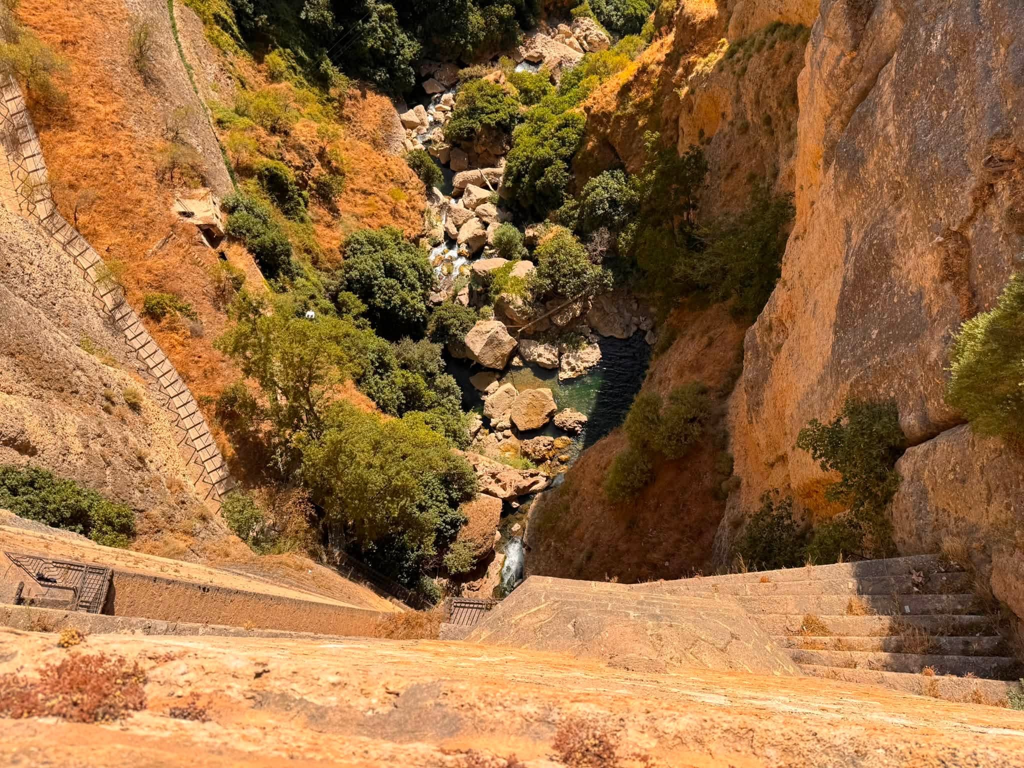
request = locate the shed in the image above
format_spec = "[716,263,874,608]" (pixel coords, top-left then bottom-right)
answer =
[169,192,233,257]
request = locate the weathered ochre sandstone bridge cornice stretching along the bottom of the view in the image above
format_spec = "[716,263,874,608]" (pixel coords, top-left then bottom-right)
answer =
[0,623,1024,768]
